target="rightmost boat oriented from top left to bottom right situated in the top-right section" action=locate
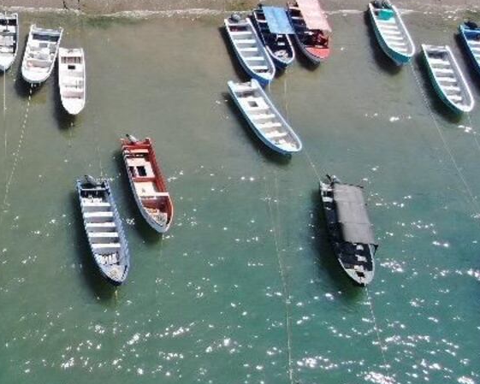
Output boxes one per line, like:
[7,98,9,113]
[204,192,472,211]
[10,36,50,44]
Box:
[418,44,474,116]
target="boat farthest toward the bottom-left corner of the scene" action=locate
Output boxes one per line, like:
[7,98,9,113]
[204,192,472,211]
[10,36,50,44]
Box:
[78,171,128,285]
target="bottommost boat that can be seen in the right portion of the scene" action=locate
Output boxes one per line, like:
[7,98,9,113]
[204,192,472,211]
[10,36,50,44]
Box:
[311,173,375,286]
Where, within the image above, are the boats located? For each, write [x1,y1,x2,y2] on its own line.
[122,136,174,232]
[366,0,415,64]
[58,48,87,116]
[311,173,375,286]
[78,171,128,285]
[228,80,299,154]
[458,20,480,82]
[224,13,277,81]
[22,26,61,85]
[0,14,19,72]
[253,6,296,65]
[418,44,474,116]
[287,0,332,63]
